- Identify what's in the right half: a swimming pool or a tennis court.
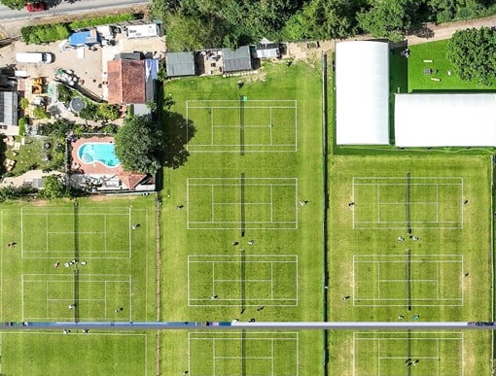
tennis court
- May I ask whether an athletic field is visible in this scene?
Yes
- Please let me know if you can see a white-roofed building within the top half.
Yes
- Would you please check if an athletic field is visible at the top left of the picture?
No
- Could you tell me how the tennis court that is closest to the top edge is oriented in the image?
from left to right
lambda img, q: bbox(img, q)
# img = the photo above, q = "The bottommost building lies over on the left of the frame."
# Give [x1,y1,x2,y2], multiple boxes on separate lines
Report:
[119,173,151,190]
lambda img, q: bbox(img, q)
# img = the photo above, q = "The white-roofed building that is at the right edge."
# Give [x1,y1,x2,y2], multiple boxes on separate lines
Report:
[395,93,496,148]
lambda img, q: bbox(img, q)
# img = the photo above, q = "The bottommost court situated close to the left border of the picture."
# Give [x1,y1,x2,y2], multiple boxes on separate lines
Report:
[22,275,131,325]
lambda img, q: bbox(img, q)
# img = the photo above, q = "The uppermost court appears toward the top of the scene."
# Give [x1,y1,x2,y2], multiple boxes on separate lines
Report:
[187,100,296,150]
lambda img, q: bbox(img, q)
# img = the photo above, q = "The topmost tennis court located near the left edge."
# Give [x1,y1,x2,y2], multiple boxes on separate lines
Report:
[22,207,131,259]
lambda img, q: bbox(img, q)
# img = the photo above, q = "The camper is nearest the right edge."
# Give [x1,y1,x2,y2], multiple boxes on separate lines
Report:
[128,24,160,40]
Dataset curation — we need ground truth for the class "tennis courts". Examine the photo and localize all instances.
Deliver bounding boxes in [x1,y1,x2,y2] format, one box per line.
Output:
[187,178,296,229]
[22,207,131,259]
[353,333,463,376]
[187,100,296,150]
[353,255,463,305]
[187,255,298,305]
[188,333,298,376]
[353,178,463,228]
[22,275,131,325]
